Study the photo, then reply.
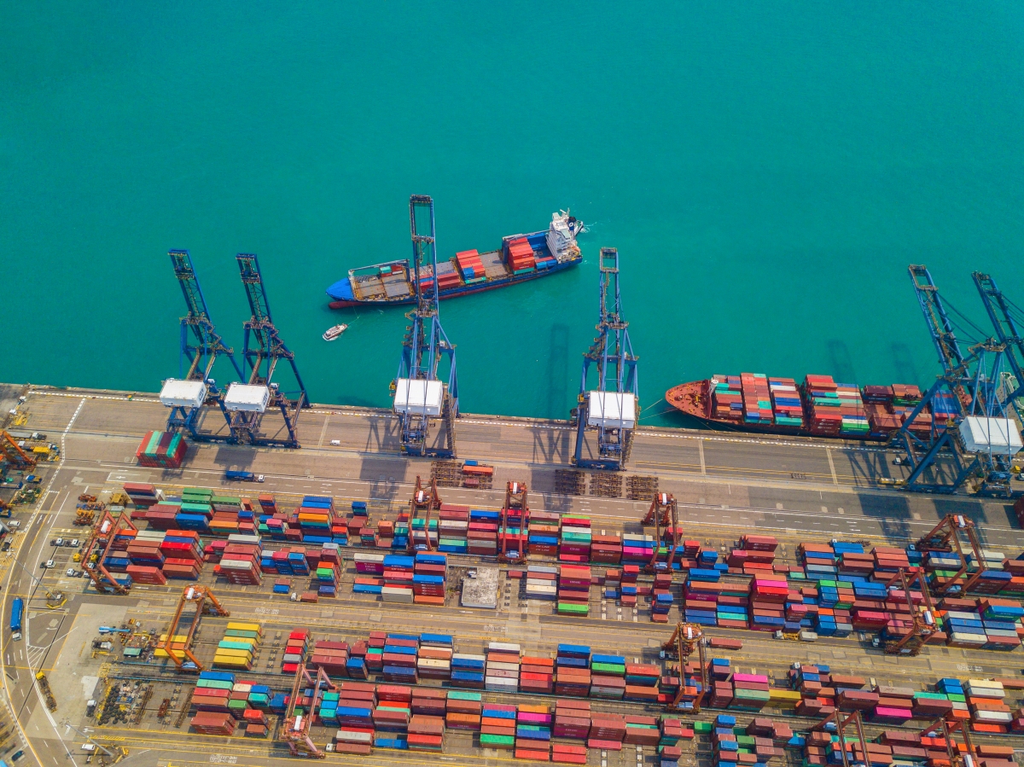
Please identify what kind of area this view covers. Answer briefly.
port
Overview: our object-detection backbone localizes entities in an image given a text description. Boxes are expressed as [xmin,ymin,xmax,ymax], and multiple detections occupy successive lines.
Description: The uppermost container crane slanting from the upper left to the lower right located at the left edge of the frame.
[0,437,33,469]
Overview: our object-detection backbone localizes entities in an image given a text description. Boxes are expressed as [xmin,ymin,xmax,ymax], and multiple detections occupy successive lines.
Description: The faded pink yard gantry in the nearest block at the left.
[280,664,337,759]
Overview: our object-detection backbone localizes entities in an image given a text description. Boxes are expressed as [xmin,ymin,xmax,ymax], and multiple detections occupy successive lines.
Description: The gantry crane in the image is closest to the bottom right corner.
[903,715,974,767]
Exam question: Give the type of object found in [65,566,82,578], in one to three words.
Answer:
vehicle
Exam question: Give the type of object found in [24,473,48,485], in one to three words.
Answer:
vehicle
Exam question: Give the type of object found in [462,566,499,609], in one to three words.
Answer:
building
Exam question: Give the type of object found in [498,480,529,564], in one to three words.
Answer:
container crane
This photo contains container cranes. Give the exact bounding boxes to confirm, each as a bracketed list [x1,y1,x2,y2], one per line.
[162,585,230,674]
[892,263,1024,501]
[955,266,1024,495]
[572,244,638,475]
[405,474,443,556]
[920,511,990,593]
[882,568,940,655]
[389,194,460,463]
[225,256,310,452]
[280,664,337,759]
[642,490,680,575]
[159,251,243,447]
[498,480,529,564]
[804,706,868,767]
[661,623,707,713]
[78,510,144,594]
[0,437,33,469]
[903,715,974,767]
